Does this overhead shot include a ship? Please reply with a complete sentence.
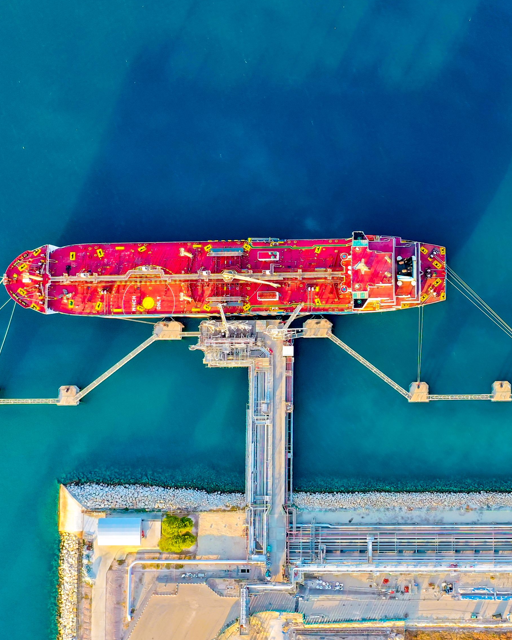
Yes, looking at the shot, I can spot a ship.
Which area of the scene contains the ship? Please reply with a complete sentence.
The ship appears toward the center of the photo.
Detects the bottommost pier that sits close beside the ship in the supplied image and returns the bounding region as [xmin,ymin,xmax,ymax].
[199,319,285,418]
